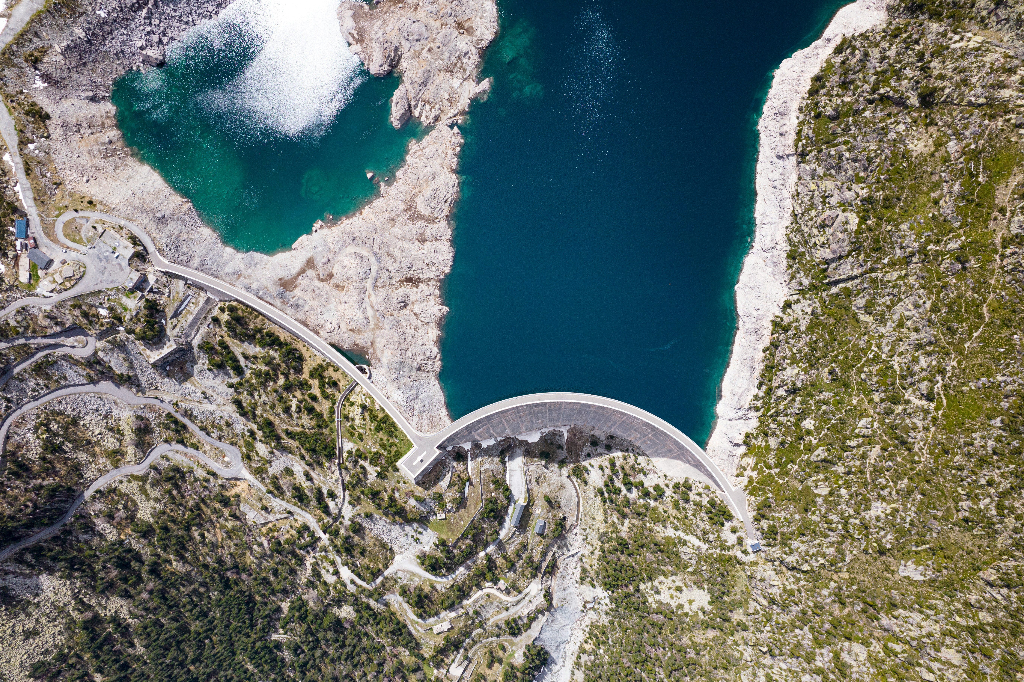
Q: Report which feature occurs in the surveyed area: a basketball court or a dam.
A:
dam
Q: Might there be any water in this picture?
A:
Yes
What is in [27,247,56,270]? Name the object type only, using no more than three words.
house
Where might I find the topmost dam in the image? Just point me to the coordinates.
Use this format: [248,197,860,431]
[154,248,432,448]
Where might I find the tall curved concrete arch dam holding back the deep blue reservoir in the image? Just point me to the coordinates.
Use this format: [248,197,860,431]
[430,390,745,521]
